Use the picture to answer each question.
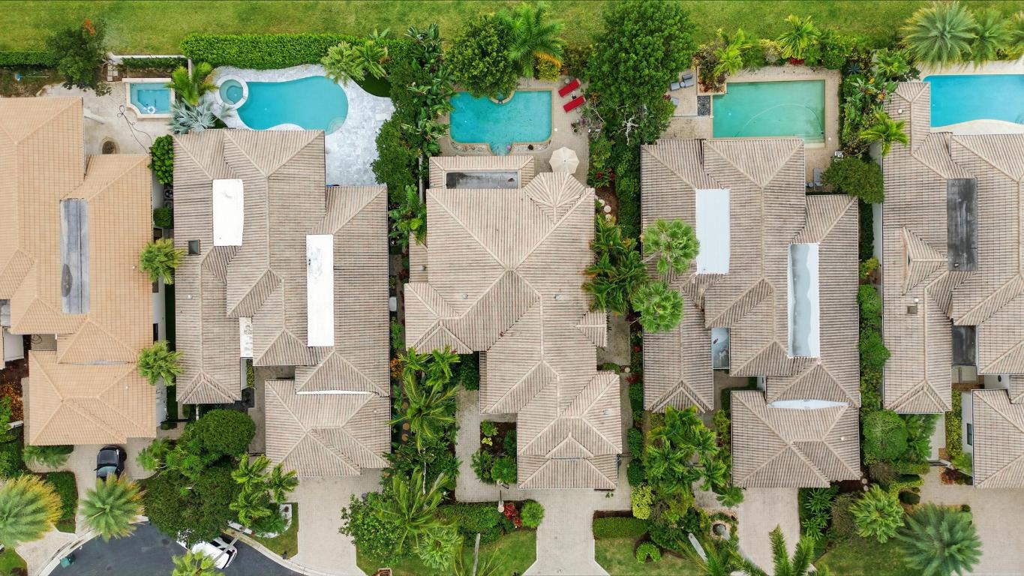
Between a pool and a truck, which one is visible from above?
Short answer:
pool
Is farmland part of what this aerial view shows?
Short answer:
No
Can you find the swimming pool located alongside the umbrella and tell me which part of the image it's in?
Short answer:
top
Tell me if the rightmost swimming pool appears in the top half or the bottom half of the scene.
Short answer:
top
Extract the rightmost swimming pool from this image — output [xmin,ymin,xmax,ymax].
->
[919,69,1024,132]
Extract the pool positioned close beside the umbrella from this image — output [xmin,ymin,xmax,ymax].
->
[447,87,555,156]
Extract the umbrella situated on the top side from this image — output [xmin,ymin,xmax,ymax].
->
[549,146,578,173]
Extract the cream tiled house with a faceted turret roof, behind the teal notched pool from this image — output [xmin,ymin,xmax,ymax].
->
[403,155,623,489]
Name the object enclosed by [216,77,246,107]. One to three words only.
swimming pool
